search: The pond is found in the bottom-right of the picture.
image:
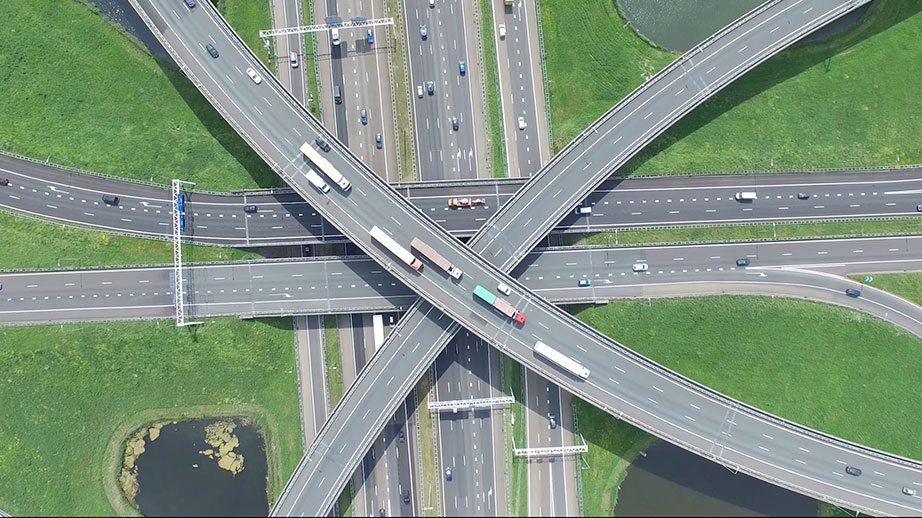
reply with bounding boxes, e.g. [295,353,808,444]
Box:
[613,440,818,518]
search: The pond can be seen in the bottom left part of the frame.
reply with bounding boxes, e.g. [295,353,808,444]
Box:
[121,416,270,518]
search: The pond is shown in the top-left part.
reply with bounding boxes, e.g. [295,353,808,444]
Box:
[90,0,180,70]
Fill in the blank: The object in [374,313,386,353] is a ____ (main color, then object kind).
white vehicle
